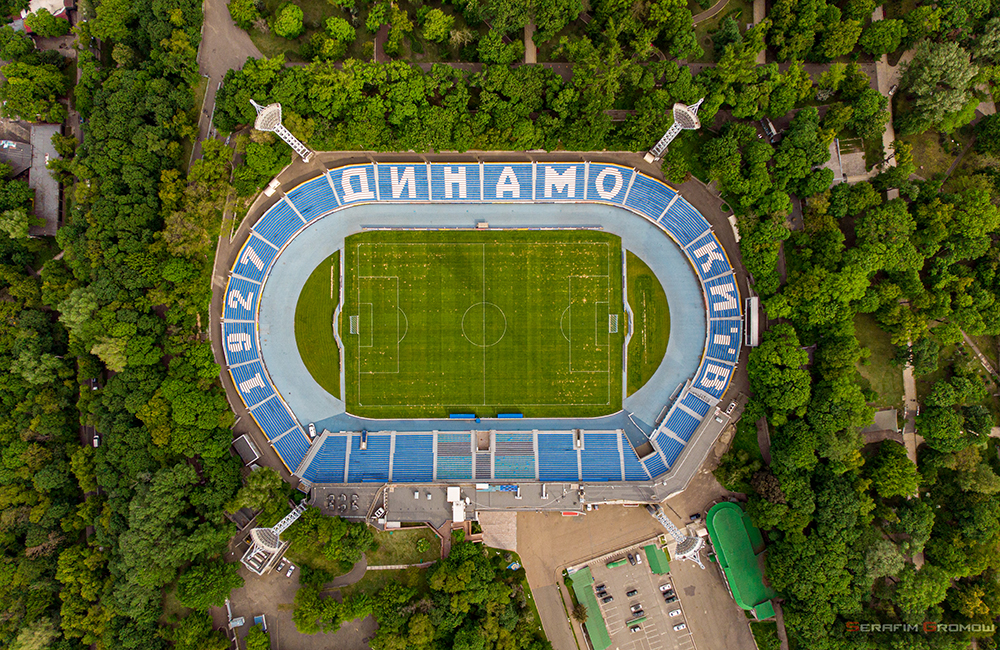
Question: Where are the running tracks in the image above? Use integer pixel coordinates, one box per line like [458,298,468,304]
[260,204,705,458]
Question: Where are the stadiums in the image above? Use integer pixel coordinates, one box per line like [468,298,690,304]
[218,158,745,565]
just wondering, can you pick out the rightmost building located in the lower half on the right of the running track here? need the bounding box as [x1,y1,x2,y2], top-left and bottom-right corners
[861,409,898,434]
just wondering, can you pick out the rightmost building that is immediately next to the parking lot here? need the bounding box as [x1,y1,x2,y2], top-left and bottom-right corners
[706,502,776,609]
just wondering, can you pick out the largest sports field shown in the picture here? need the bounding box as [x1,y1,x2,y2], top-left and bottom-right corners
[345,229,623,418]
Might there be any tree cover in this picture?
Yes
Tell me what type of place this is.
sports ground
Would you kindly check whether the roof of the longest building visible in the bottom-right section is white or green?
green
